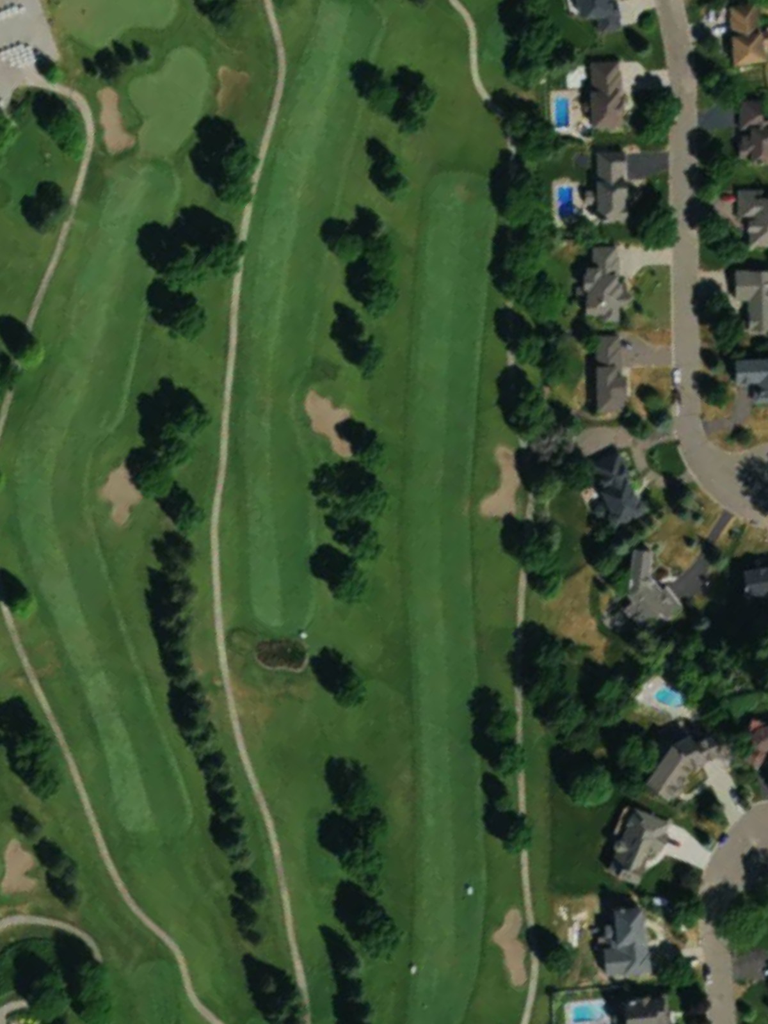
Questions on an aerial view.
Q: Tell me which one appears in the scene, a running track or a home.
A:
home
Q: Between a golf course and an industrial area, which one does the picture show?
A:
golf course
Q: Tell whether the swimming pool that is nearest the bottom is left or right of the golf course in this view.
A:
on the right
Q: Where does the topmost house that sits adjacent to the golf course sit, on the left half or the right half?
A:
right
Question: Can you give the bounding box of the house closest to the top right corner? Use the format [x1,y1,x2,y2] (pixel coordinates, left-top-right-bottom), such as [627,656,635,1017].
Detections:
[733,1,768,66]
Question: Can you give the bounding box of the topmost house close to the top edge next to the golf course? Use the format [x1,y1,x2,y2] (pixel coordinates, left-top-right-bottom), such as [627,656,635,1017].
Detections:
[569,0,622,31]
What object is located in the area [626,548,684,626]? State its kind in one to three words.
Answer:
house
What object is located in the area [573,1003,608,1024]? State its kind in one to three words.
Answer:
swimming pool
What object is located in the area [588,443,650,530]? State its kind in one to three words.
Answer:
house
